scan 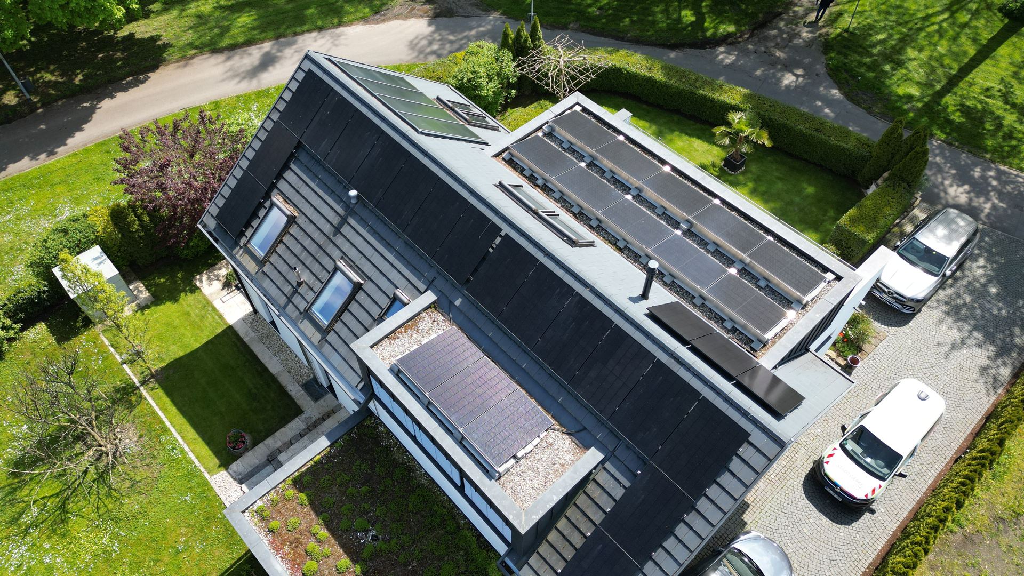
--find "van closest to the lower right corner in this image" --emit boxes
[809,376,945,515]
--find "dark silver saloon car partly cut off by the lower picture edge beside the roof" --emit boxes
[690,525,790,576]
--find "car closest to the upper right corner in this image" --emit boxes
[868,210,982,319]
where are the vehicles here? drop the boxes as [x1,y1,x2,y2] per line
[868,210,982,319]
[809,376,945,515]
[690,525,790,576]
